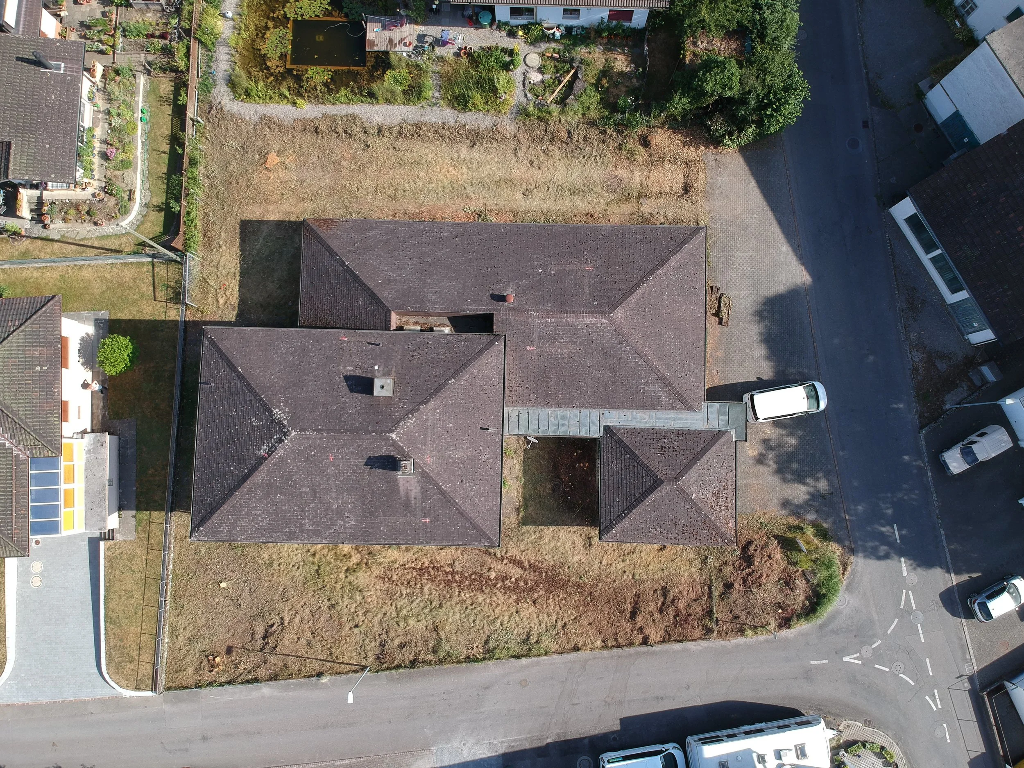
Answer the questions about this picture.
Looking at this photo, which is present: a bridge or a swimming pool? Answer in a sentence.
This aerial view contains a swimming pool.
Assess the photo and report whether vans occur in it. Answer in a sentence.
Yes, a van can be made out from above.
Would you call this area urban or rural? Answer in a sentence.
The land in this view is best described as urban.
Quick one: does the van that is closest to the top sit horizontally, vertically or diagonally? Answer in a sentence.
Seen from above, the van that is closest to the top lies horizontally.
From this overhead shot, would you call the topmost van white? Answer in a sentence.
Yes, white is the color of the topmost van.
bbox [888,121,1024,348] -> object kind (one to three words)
barn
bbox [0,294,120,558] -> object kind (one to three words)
house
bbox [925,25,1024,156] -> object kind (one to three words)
building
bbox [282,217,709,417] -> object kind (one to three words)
house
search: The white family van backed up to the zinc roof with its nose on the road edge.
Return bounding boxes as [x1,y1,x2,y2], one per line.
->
[742,379,828,424]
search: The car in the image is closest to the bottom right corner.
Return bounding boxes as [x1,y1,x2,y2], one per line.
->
[968,566,1024,624]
